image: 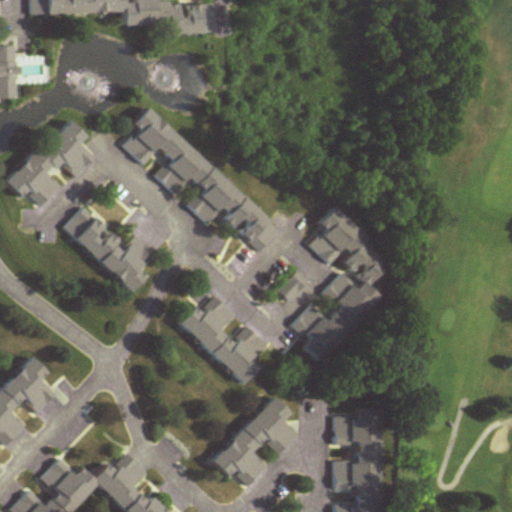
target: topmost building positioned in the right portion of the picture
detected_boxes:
[307,212,383,286]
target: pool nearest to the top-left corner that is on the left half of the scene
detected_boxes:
[17,54,49,84]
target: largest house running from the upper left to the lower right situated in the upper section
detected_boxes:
[120,108,274,241]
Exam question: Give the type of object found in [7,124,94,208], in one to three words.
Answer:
house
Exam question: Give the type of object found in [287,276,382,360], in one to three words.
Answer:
house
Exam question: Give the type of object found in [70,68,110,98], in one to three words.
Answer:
fountain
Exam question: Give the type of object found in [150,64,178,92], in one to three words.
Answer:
fountain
